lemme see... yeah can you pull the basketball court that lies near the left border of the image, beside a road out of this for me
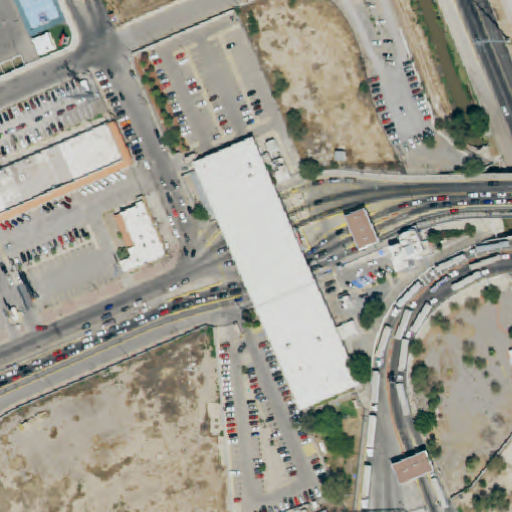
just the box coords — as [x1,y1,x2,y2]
[14,0,64,36]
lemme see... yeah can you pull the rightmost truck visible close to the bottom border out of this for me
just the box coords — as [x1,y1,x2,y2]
[426,471,448,508]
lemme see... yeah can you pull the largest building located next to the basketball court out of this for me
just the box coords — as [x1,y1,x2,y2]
[32,32,58,56]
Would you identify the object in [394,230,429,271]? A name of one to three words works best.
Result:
building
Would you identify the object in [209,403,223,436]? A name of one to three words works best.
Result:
building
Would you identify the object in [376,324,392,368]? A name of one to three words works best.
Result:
vehicle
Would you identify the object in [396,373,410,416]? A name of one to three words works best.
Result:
vehicle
